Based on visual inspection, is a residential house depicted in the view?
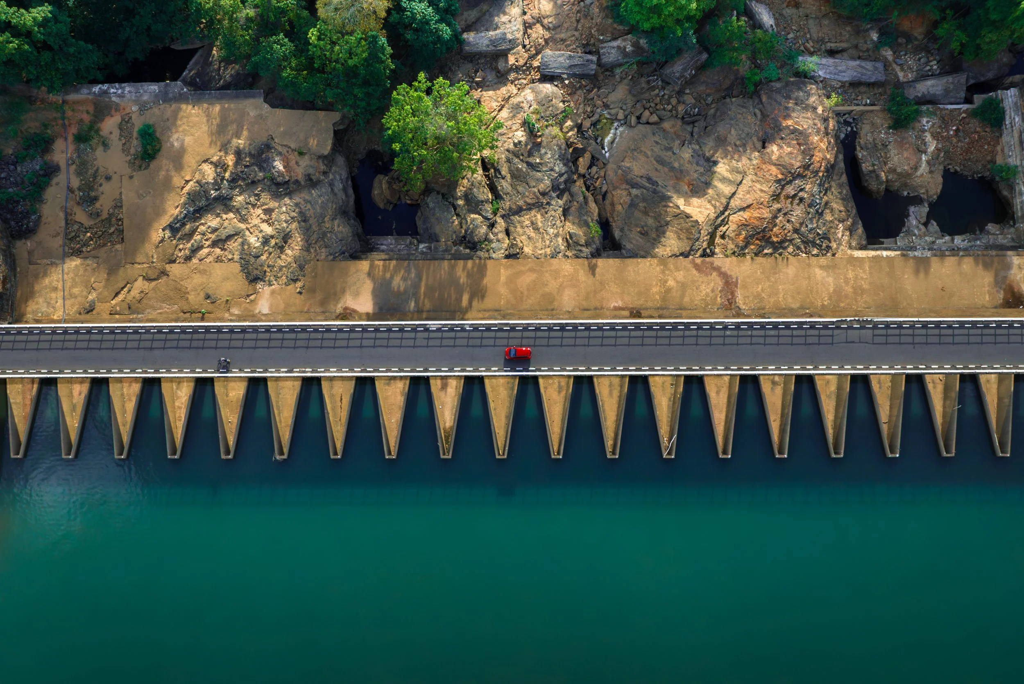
No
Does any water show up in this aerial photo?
Yes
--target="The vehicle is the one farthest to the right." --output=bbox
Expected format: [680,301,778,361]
[505,345,532,360]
